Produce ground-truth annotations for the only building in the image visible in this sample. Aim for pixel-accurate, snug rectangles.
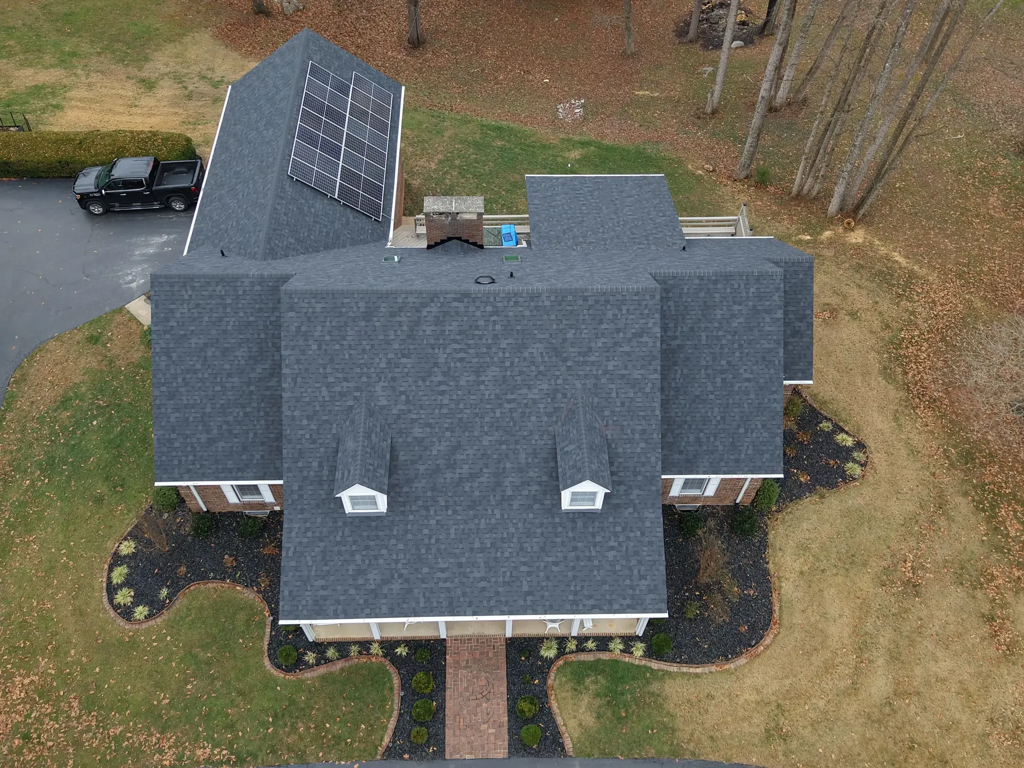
[150,28,815,647]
